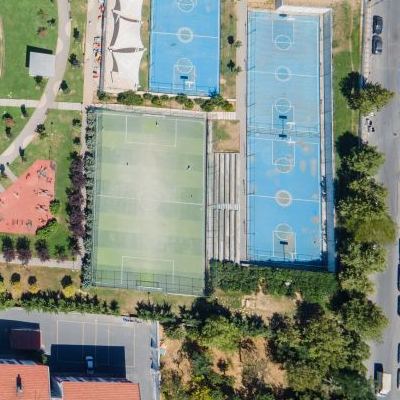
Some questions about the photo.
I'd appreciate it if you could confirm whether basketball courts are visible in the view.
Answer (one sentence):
Yes, the picture does show a basketball court.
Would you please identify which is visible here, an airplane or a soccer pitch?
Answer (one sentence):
Of the two, only a soccer pitch appears.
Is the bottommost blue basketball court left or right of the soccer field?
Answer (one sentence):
It is on the right side of the soccer field that the bottommost blue basketball court is positioned.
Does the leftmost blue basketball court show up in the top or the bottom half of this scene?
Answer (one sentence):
The leftmost blue basketball court is in the top half of the image.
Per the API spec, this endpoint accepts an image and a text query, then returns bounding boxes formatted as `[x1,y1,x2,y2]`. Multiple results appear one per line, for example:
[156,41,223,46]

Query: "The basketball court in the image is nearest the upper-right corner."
[248,11,322,136]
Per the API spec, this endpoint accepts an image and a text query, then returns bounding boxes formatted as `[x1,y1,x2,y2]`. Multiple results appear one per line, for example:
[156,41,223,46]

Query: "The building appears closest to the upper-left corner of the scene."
[28,52,56,78]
